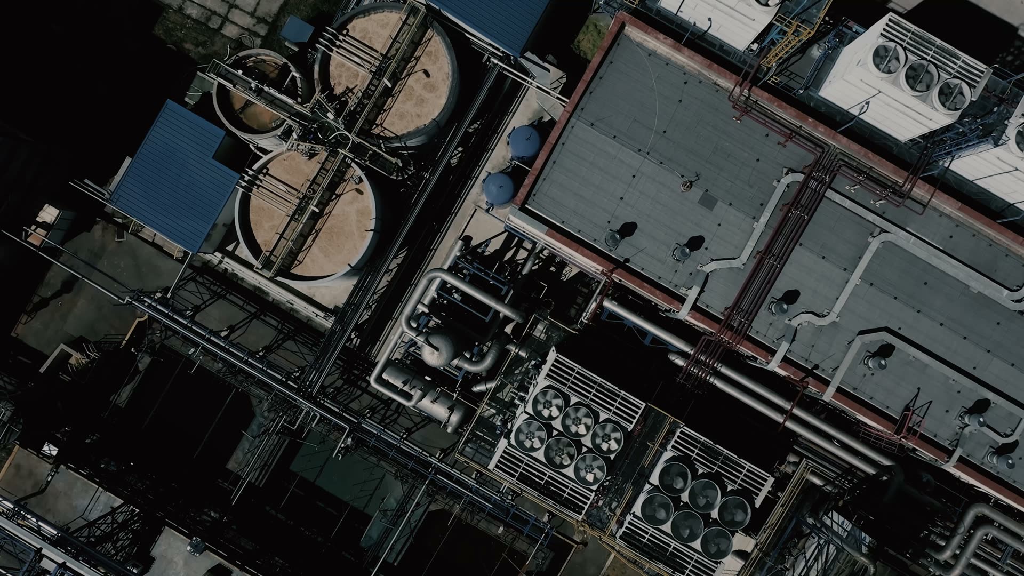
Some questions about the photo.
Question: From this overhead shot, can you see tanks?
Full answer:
Yes, a tank is visible in the scene.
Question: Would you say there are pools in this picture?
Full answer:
No, no pool is visible in the view.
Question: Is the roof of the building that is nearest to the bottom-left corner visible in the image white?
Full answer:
No, from above the roof of the building that is nearest to the bottom-left corner looks black.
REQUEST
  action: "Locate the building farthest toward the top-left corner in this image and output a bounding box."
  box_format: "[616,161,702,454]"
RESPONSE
[0,130,69,227]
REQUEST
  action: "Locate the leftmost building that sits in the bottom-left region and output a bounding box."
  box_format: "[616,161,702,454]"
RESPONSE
[90,349,239,504]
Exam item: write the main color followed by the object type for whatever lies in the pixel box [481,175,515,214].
blue storage tank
